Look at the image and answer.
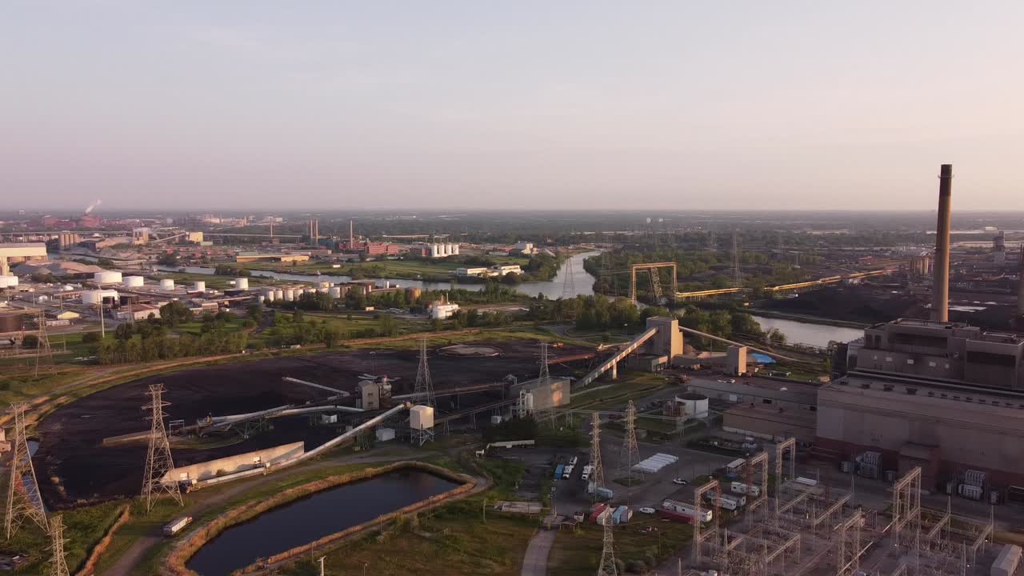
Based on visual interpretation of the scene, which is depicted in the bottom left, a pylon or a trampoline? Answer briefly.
pylon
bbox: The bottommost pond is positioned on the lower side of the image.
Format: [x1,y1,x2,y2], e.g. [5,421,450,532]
[183,468,462,576]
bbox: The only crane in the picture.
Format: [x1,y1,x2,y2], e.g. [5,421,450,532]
[605,260,679,304]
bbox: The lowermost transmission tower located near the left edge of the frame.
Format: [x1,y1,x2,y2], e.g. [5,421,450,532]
[36,484,72,576]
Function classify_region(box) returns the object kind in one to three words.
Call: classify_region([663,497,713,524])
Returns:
trailer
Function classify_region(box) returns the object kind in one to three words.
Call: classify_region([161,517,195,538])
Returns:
truck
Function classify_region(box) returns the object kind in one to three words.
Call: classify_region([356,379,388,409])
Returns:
house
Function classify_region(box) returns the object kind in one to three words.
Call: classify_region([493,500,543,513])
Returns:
building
